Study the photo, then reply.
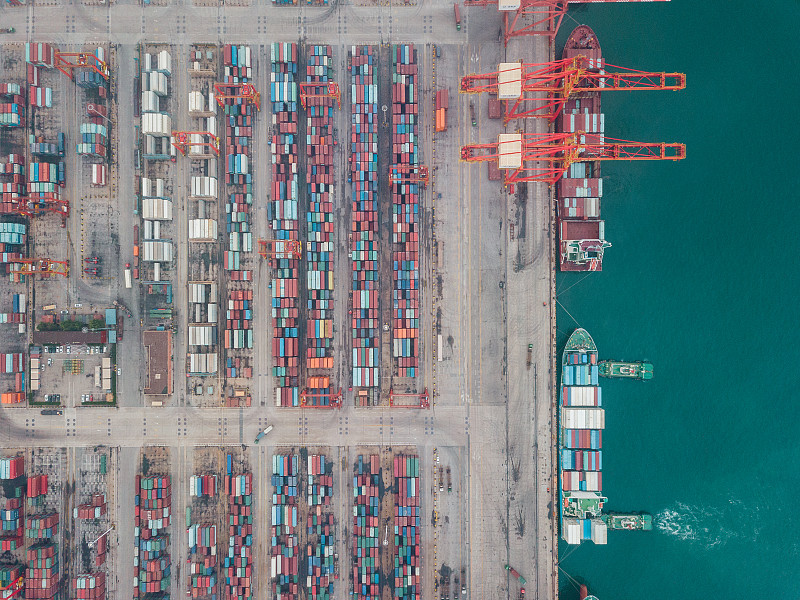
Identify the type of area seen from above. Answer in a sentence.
This image shows a port.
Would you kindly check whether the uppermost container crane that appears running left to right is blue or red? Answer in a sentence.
The uppermost container crane that appears running left to right looks red in the image.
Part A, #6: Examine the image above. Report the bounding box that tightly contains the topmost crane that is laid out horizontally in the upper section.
[461,0,687,49]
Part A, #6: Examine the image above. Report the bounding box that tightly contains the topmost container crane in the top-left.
[55,49,112,80]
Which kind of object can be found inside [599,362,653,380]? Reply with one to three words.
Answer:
boat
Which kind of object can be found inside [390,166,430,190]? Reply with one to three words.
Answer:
container crane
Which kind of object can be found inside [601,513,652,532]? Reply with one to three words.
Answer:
boat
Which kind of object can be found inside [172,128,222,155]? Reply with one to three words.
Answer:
container crane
